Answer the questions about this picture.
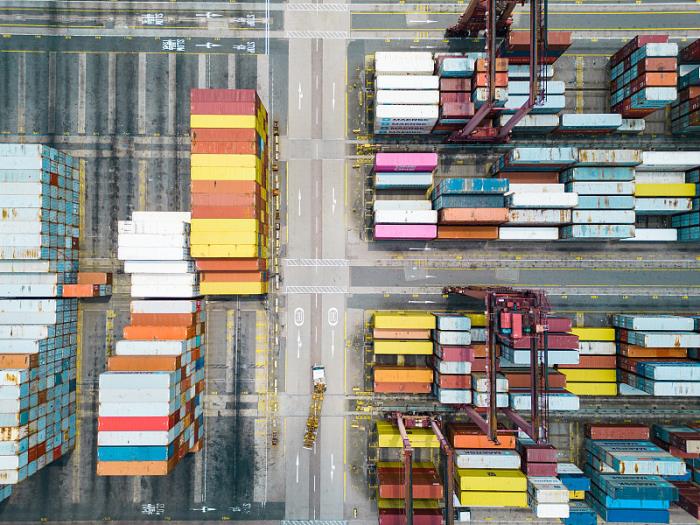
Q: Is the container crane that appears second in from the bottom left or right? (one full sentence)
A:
It is on the right.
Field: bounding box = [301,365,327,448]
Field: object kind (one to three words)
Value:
truck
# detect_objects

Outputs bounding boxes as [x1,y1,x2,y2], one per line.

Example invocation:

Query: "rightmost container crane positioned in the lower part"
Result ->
[440,283,550,445]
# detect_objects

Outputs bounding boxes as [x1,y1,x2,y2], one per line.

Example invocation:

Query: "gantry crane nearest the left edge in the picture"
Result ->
[373,410,453,525]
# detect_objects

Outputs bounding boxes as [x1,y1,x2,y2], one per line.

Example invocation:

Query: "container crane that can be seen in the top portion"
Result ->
[441,0,552,146]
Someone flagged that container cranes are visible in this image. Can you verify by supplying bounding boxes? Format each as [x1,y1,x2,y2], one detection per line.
[440,283,550,445]
[441,0,552,146]
[373,410,453,525]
